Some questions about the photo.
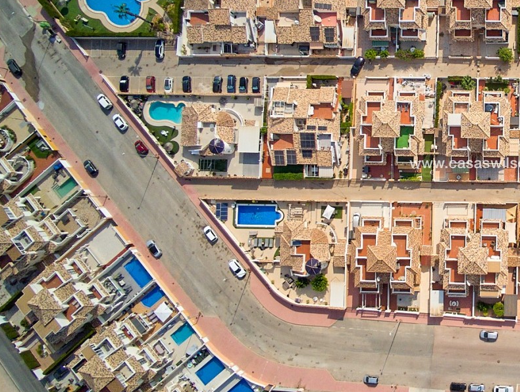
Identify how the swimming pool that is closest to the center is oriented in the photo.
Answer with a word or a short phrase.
from side to side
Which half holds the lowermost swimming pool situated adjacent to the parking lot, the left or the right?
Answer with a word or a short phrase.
left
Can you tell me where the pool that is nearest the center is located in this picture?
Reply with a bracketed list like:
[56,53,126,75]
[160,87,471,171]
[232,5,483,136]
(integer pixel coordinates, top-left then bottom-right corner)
[236,204,284,227]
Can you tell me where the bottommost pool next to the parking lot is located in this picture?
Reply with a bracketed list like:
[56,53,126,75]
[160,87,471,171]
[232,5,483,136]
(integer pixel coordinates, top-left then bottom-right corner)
[148,101,186,124]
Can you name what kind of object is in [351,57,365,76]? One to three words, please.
car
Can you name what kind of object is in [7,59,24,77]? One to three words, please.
car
